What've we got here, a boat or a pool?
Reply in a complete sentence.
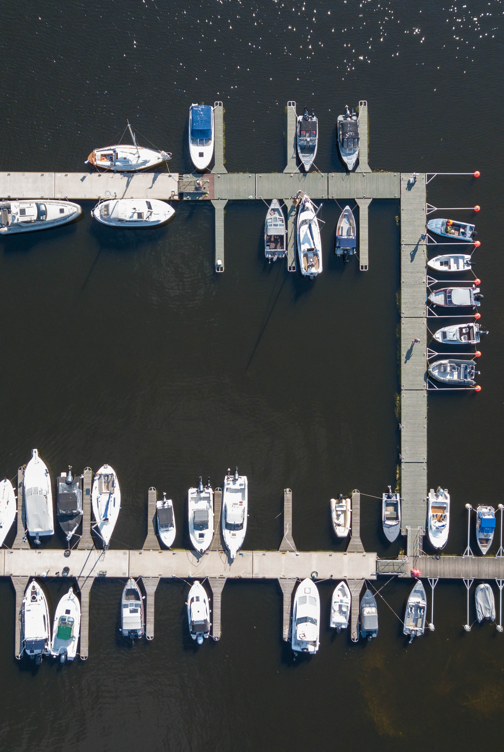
Of the two, only a boat appears.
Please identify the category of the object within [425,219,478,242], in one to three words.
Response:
boat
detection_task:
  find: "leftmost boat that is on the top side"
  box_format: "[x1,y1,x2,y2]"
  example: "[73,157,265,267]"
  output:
[0,197,95,232]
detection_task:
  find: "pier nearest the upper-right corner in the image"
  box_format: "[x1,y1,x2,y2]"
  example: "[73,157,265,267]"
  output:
[355,101,371,172]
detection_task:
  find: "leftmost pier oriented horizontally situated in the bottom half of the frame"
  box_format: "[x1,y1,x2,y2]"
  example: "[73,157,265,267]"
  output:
[0,548,378,580]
